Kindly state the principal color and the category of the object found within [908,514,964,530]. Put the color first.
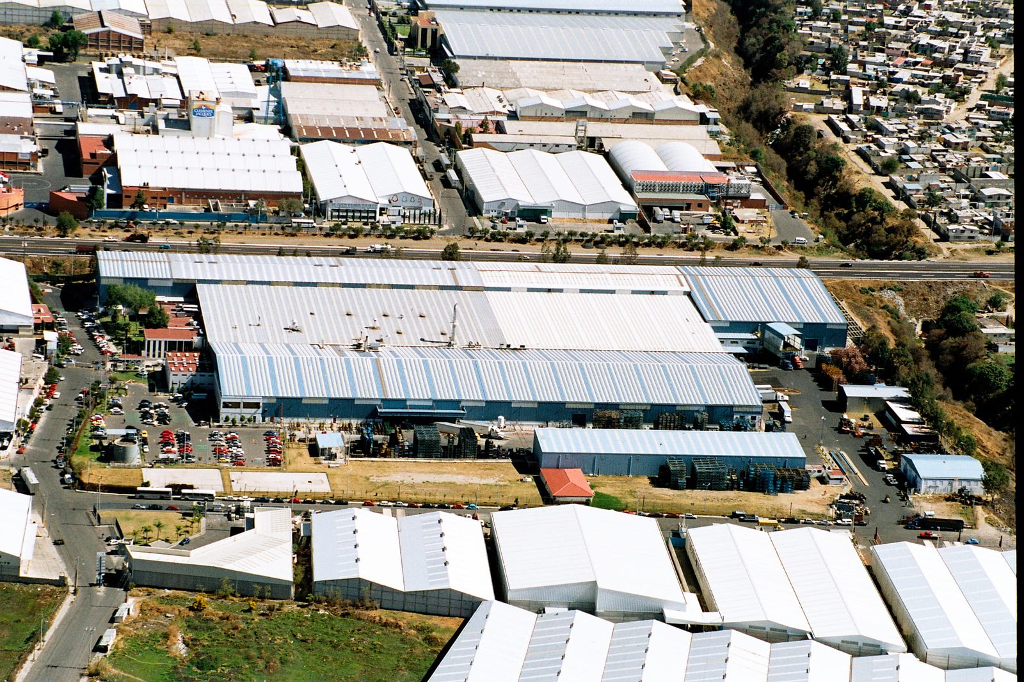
black vehicle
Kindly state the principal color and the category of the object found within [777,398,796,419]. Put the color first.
white vehicle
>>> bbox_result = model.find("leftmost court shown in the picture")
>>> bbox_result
[143,468,224,491]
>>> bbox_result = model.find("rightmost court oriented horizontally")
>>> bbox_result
[230,472,331,492]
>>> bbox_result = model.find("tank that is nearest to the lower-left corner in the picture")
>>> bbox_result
[114,440,139,464]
